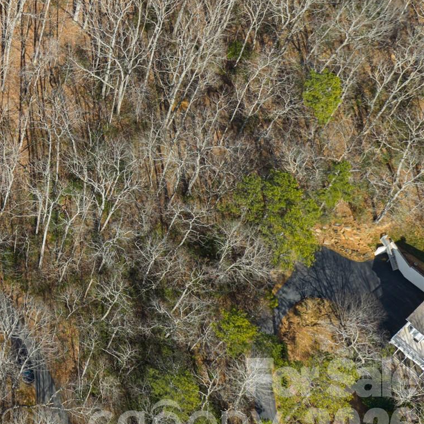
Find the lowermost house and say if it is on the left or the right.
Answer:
right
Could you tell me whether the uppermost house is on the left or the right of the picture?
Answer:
right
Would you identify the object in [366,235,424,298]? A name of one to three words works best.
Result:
house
